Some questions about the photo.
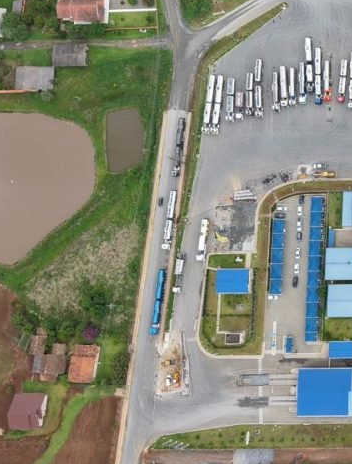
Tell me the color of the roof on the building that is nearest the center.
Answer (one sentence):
The color of the roof on the building that is nearest the center is blue.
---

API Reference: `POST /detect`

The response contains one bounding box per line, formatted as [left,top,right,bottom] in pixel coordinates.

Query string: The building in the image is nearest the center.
[216,269,251,294]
